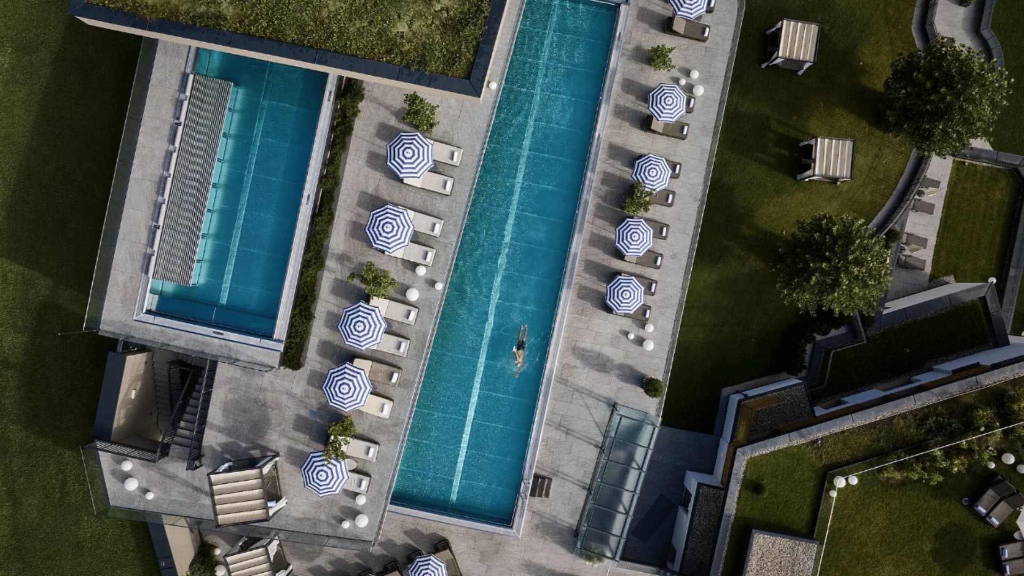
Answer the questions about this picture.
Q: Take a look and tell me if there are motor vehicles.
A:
No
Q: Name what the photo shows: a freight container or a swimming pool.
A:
swimming pool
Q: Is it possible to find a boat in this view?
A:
No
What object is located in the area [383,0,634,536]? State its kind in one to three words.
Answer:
swimming pool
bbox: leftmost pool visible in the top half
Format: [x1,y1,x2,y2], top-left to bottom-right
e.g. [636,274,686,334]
[132,44,339,351]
